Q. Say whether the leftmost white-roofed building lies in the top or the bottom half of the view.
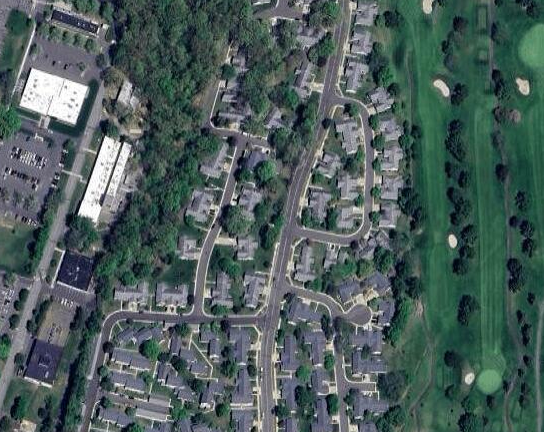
top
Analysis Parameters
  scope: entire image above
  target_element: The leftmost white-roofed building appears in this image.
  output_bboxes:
[20,68,89,127]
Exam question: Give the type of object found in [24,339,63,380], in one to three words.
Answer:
building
